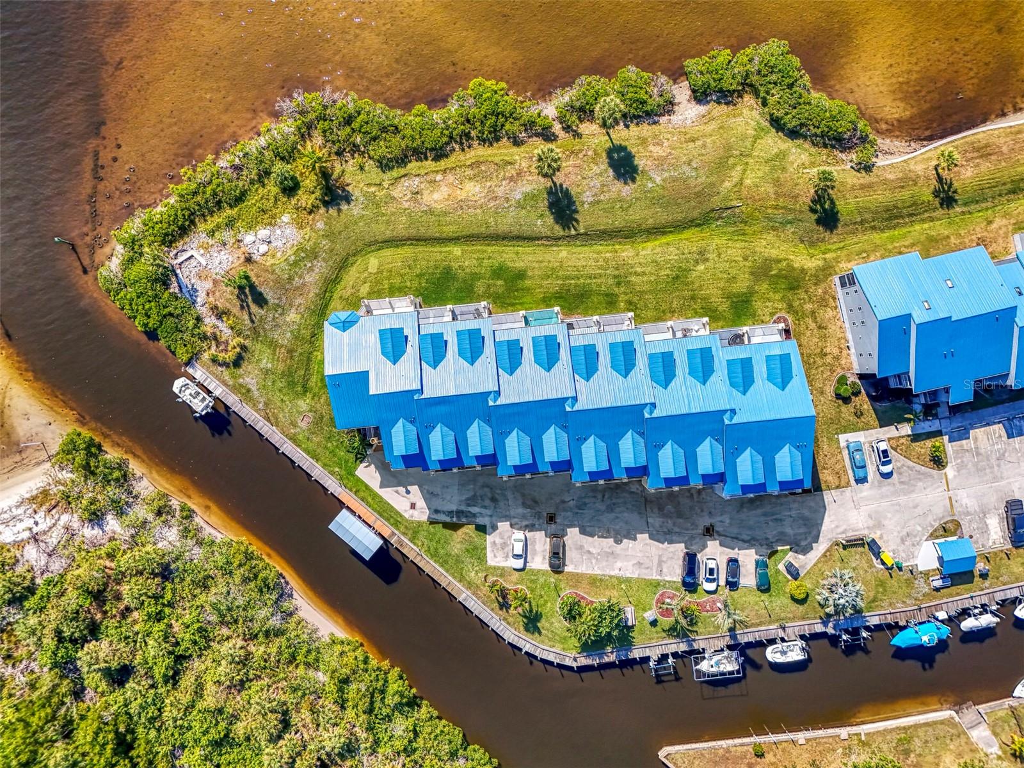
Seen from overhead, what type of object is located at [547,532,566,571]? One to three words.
car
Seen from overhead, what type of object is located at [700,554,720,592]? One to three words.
car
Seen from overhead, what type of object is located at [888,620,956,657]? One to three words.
boat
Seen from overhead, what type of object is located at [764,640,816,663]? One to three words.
boat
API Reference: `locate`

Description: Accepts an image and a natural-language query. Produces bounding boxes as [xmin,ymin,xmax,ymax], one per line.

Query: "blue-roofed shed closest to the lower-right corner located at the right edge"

[924,532,976,574]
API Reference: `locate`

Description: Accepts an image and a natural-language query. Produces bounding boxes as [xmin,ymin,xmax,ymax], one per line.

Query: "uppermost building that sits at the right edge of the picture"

[838,231,1024,405]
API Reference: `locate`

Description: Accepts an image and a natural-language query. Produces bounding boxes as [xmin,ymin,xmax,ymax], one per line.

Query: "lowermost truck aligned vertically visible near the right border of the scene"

[1000,497,1024,549]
